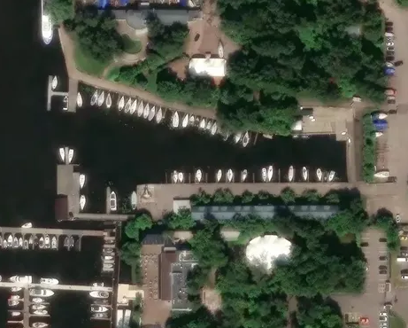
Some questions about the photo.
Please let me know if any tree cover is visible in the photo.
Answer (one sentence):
Yes, tree cover can be seen from above here.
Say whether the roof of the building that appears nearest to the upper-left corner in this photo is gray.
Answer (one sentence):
Yes, the roof of the building that appears nearest to the upper-left corner is gray.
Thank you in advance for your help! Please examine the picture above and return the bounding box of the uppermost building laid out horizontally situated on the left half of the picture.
[112,9,205,34]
